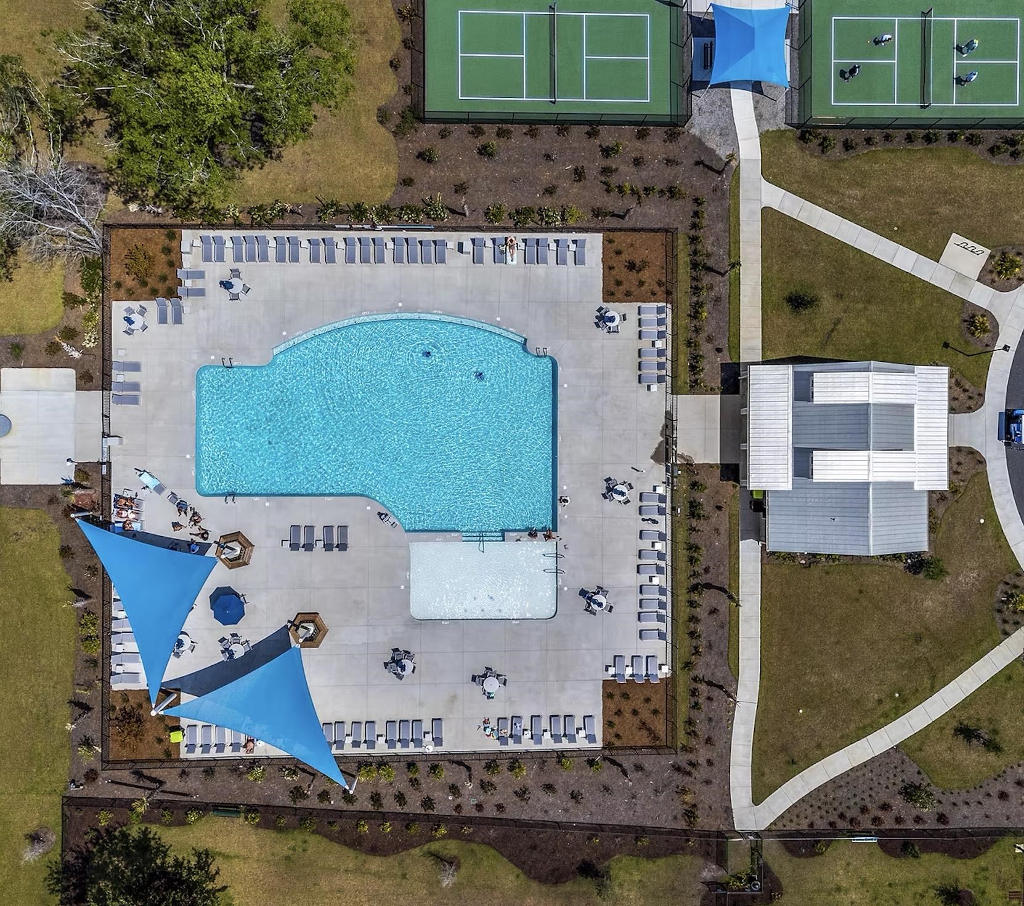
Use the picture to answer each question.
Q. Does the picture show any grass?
Yes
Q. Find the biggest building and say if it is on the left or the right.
right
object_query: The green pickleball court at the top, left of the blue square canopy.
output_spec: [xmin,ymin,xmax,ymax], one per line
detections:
[424,0,683,126]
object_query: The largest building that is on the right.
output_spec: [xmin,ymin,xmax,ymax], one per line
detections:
[737,361,951,556]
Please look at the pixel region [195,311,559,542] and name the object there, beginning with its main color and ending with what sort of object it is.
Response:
blue swimming pool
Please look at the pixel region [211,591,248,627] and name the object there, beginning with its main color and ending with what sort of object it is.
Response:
blue umbrella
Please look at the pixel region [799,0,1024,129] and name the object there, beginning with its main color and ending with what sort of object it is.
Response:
green sports court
